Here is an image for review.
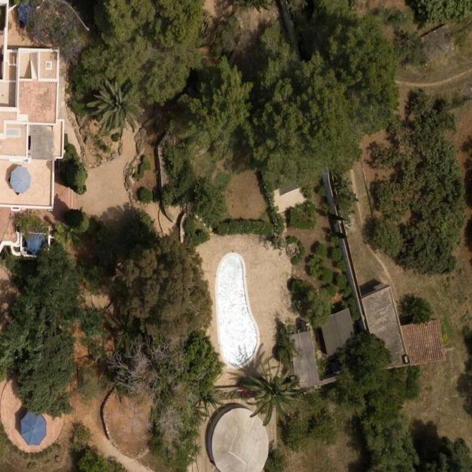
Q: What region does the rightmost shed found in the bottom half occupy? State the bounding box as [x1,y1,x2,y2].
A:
[401,317,446,366]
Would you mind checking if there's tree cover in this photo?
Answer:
Yes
